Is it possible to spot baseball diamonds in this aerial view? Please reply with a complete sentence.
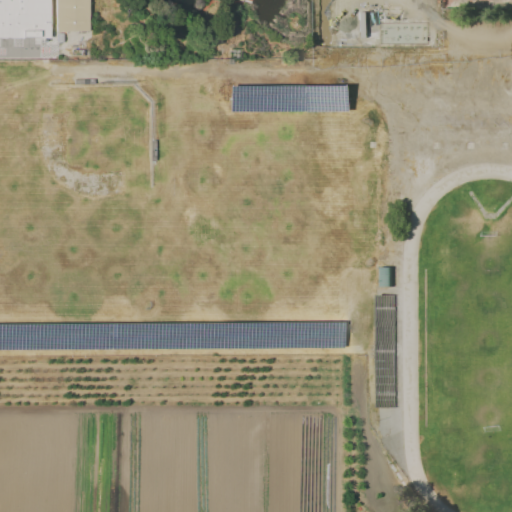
Yes, the photo shows a baseball diamond.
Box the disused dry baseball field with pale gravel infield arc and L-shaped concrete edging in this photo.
[40,80,154,192]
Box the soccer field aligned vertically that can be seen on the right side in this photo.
[427,236,512,428]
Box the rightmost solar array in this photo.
[377,294,396,407]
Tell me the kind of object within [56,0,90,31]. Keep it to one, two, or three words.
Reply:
shed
